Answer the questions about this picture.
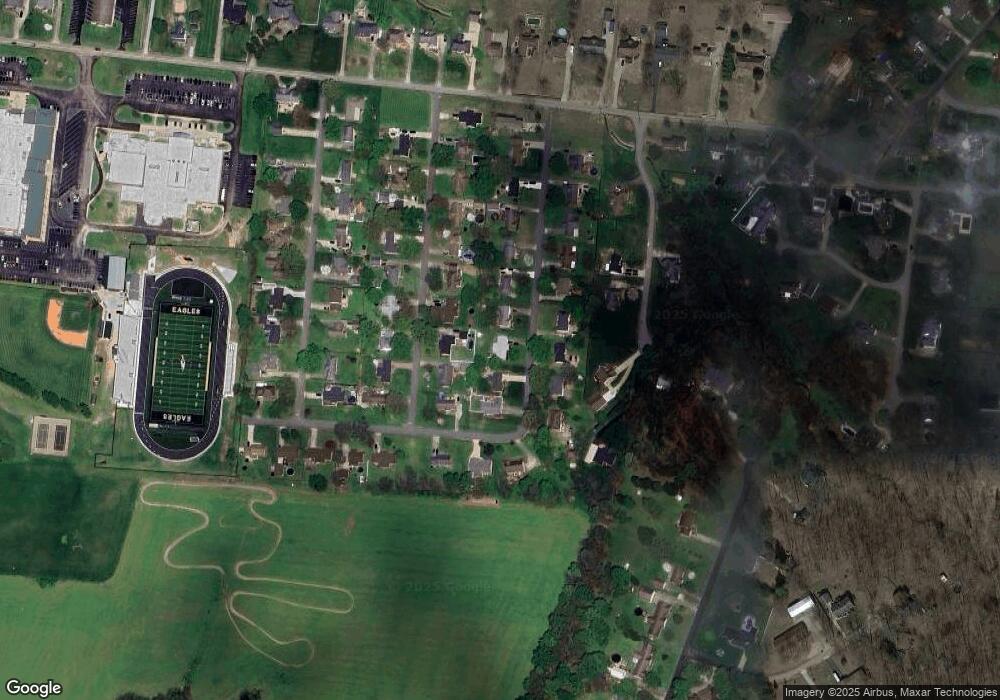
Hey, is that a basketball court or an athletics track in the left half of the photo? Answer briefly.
athletics track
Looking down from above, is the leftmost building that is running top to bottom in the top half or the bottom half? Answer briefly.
top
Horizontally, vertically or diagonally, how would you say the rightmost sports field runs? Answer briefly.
vertically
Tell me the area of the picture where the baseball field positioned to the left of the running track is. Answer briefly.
left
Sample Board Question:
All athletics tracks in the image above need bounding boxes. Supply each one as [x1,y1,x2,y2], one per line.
[136,267,231,462]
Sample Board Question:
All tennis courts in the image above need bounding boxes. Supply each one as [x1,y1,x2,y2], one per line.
[54,426,66,450]
[37,424,49,448]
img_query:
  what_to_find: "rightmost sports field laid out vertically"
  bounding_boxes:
[146,277,221,451]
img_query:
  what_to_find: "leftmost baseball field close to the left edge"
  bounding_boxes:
[0,288,100,392]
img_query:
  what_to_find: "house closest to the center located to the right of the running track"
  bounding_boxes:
[493,334,510,364]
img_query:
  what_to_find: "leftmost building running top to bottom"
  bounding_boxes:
[0,107,57,238]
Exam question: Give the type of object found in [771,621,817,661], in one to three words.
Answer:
barn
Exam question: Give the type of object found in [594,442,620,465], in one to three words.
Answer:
house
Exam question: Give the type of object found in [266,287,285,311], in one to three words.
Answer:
house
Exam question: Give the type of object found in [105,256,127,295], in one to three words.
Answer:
building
